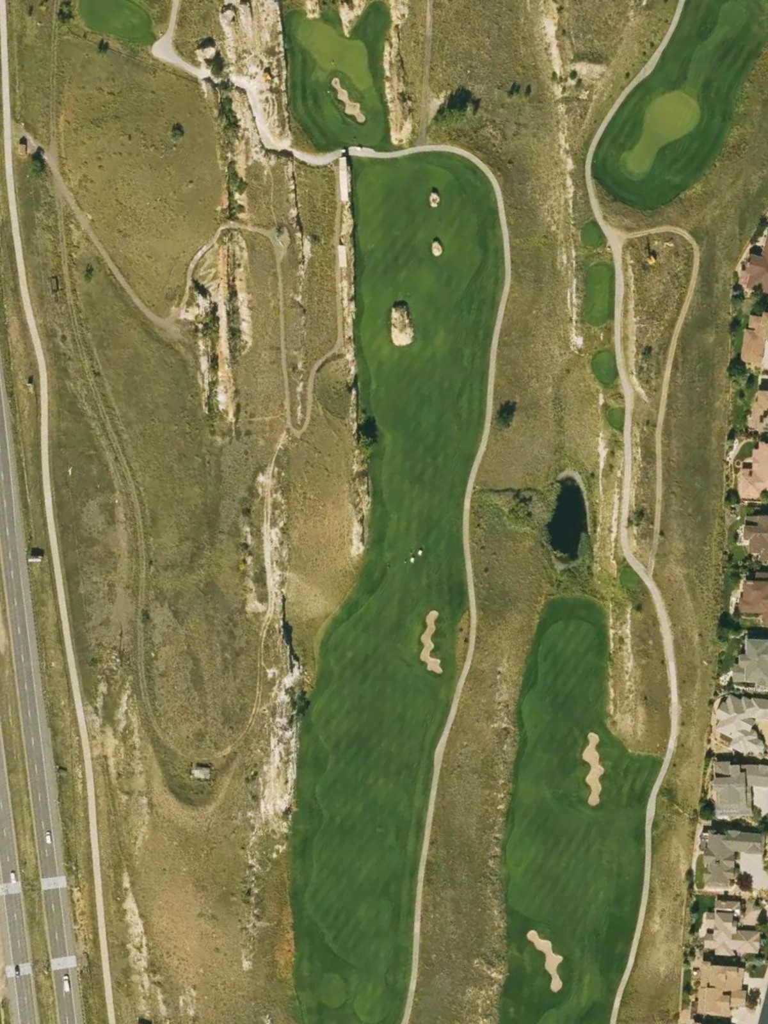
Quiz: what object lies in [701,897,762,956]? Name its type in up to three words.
house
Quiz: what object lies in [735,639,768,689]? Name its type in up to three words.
house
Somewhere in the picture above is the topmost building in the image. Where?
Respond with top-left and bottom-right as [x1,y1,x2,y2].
[736,239,768,290]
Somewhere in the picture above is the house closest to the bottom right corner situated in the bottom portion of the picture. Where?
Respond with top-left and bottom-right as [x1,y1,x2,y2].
[697,960,747,1018]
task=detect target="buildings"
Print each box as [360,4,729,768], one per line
[746,377,768,430]
[701,829,766,889]
[712,693,768,751]
[741,311,768,364]
[701,897,762,956]
[697,960,747,1018]
[744,514,768,558]
[714,762,768,818]
[735,639,768,689]
[192,766,211,777]
[738,444,768,498]
[739,571,768,624]
[736,239,768,290]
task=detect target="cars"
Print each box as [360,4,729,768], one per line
[63,976,69,991]
[15,966,20,977]
[45,832,51,843]
[10,872,16,884]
